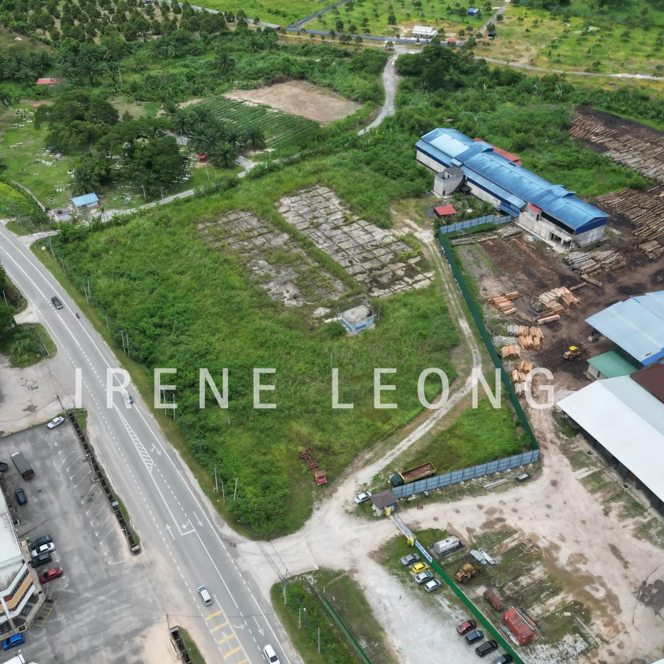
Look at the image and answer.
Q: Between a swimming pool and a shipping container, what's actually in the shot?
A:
shipping container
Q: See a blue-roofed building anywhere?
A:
Yes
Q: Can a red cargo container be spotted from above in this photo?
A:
Yes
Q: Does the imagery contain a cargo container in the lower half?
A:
Yes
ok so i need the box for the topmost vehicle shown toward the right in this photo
[562,344,588,360]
